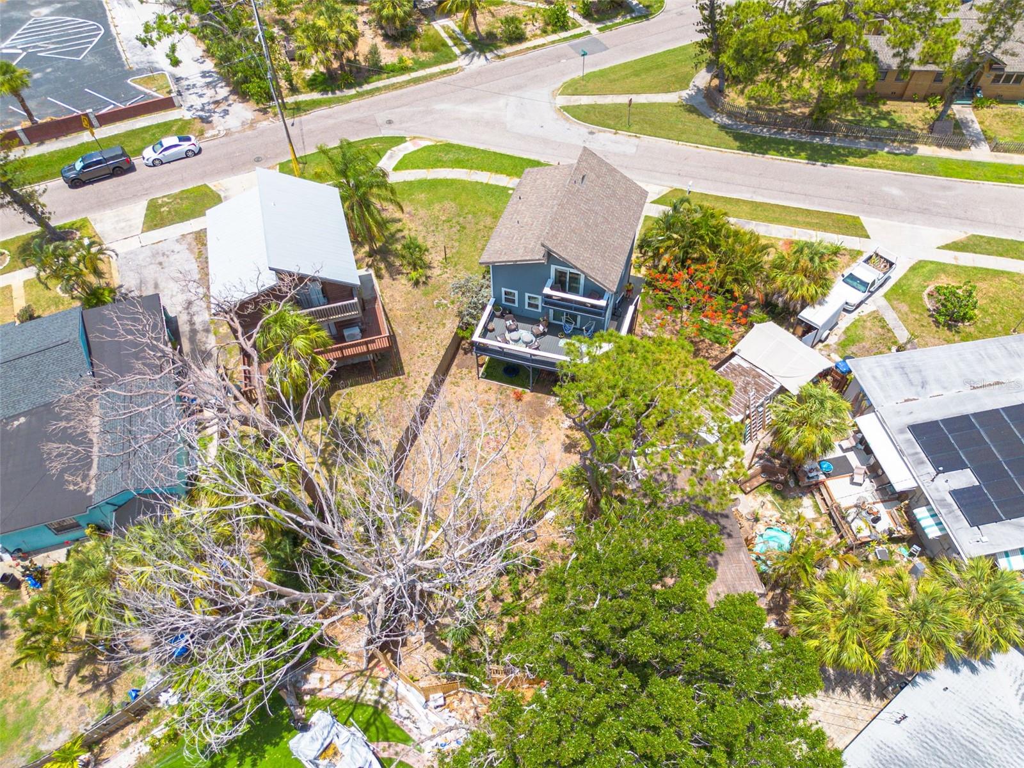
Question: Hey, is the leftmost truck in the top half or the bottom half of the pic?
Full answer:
Seen from above, the leftmost truck lies in the top half of the view.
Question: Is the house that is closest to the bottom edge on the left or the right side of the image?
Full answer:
The house that is closest to the bottom edge is on the right side of the image.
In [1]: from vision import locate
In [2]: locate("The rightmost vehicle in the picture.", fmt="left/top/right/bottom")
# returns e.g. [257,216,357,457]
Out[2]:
[839,237,909,317]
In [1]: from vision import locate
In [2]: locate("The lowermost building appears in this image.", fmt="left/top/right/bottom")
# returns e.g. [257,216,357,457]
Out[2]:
[817,646,1024,768]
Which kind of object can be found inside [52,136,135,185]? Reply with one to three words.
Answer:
truck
